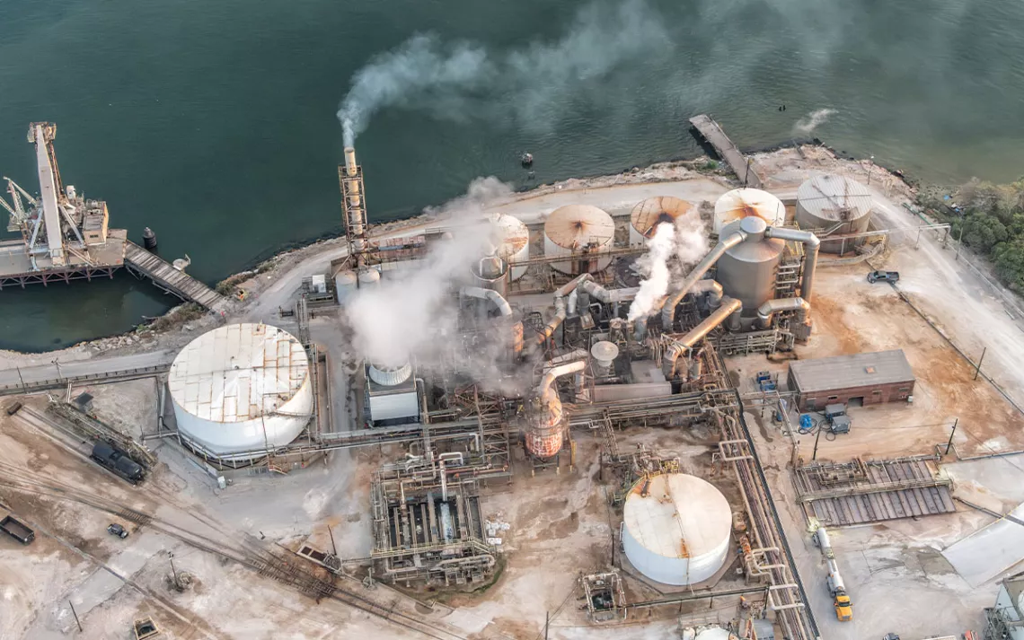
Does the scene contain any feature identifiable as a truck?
Yes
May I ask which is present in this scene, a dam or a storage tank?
storage tank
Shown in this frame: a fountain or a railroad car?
railroad car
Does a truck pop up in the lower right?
Yes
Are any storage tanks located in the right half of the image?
Yes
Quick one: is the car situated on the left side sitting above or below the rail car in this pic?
below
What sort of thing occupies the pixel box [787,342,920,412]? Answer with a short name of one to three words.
building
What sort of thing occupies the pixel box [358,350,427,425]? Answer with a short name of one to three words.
cooling tower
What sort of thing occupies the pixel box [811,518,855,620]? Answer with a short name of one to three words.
truck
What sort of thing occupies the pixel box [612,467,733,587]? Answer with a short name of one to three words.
storage tank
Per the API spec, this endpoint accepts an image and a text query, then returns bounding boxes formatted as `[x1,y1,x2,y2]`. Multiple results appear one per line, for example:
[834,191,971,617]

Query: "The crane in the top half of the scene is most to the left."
[0,175,41,236]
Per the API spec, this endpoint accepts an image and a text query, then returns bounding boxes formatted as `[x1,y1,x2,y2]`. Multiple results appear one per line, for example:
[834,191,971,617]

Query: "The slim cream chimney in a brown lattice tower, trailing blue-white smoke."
[333,142,370,265]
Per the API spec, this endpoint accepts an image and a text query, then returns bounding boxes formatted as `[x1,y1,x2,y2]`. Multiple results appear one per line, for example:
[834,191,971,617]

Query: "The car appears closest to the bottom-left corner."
[102,516,132,540]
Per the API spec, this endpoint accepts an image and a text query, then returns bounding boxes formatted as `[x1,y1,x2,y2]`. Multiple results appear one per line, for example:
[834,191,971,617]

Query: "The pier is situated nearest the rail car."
[0,230,133,288]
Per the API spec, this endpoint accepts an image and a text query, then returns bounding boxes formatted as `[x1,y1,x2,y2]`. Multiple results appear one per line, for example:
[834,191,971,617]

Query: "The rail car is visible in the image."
[82,435,152,484]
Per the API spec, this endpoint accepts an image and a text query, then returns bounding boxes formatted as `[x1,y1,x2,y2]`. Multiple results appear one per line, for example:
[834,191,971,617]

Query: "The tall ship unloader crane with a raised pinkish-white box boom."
[21,124,110,270]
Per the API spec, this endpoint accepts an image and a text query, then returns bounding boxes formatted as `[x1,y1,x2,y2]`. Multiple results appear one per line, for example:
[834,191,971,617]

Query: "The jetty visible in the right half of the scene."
[689,113,763,186]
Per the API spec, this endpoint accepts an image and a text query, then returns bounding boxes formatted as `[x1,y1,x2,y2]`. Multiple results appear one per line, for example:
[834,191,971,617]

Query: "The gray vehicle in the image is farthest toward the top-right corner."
[866,271,901,285]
